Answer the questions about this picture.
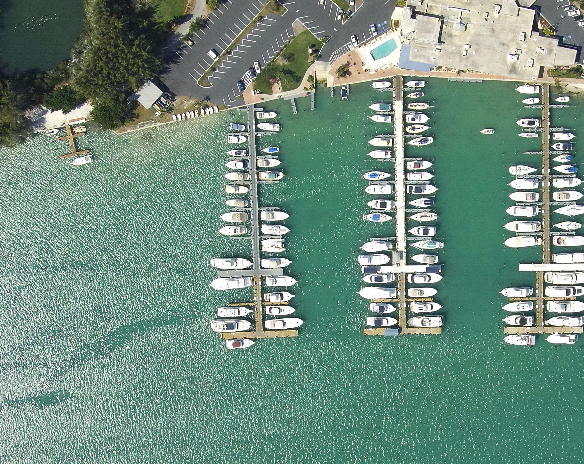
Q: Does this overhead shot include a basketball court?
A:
No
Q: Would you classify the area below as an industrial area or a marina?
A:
marina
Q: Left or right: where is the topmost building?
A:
right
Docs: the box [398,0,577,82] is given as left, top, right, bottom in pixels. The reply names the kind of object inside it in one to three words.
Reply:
building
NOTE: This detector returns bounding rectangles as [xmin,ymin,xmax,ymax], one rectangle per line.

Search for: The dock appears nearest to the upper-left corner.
[56,125,90,160]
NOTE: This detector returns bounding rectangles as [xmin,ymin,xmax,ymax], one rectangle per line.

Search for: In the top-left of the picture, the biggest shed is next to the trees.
[135,85,163,109]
